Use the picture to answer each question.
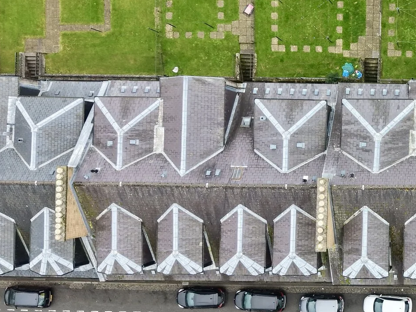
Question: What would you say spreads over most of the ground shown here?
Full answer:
The bulk of the photo consists of buildings.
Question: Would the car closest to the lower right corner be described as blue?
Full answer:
No, the car closest to the lower right corner is white.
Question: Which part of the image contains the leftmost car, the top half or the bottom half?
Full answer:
The bottom half of the photo is where the leftmost car is.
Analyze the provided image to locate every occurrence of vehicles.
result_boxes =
[300,293,345,312]
[5,284,56,310]
[234,287,287,312]
[177,286,227,311]
[363,292,413,312]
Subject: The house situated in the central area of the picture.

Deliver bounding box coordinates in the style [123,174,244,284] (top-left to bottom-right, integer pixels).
[75,76,340,288]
